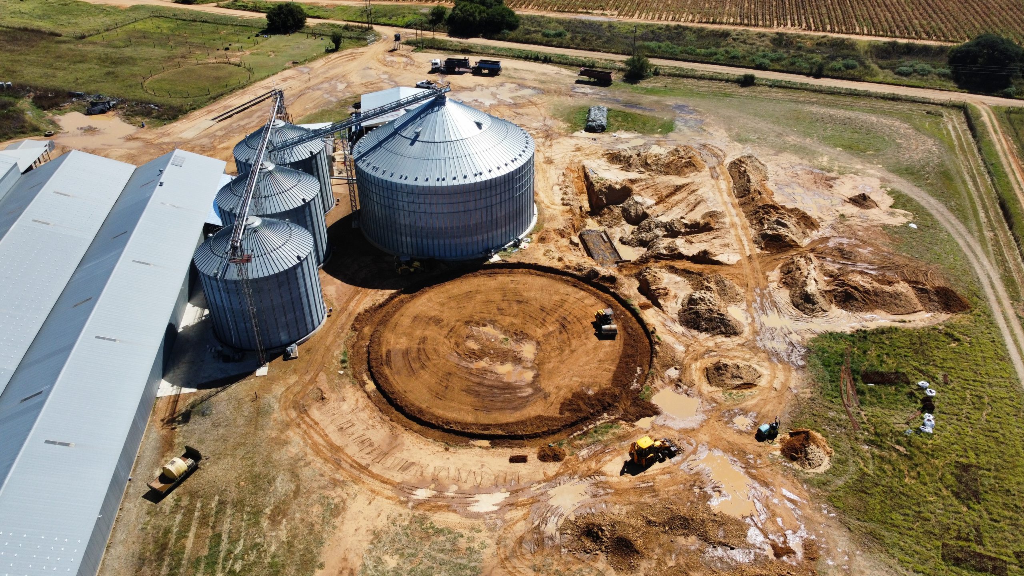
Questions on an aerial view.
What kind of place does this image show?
industrial area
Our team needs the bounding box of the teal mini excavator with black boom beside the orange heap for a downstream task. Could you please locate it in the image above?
[754,421,788,445]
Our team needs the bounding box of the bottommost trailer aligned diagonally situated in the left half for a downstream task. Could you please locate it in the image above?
[146,442,205,493]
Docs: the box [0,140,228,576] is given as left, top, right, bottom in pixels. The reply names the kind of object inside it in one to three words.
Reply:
shed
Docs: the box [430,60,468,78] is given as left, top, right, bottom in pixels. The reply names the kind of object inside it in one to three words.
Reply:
vehicle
